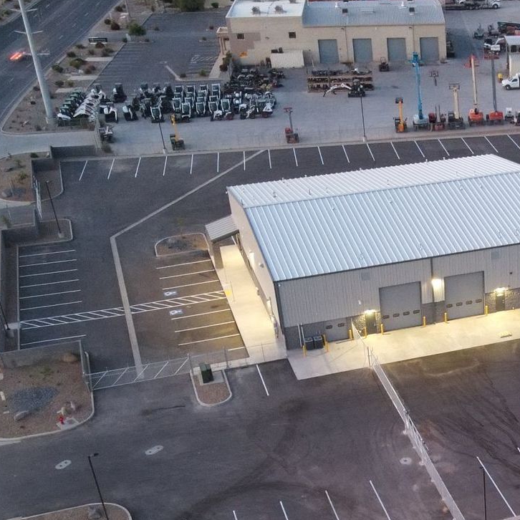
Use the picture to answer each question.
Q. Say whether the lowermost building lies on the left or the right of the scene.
right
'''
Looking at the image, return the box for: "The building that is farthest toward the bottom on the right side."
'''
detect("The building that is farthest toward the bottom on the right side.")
[227,153,520,349]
